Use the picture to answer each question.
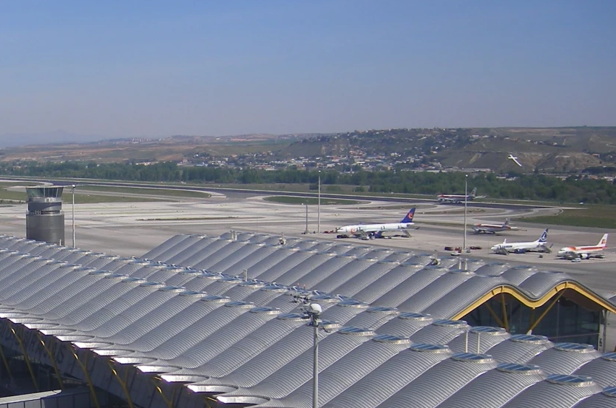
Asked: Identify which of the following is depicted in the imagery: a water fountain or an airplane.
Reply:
airplane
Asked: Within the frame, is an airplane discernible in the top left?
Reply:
No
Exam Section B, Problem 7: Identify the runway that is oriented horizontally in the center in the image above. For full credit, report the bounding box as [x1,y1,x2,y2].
[0,180,572,210]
